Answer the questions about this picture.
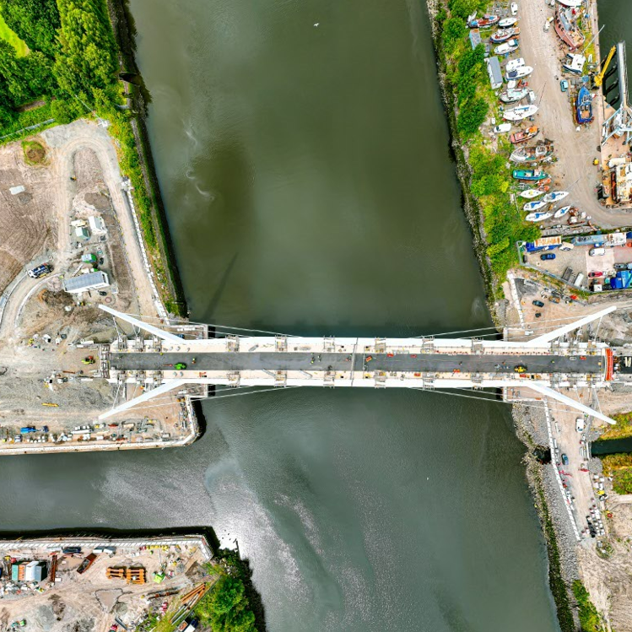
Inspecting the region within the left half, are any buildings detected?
Yes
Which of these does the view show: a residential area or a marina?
marina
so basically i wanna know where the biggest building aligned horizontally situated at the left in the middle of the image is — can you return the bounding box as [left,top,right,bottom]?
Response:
[63,268,112,292]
